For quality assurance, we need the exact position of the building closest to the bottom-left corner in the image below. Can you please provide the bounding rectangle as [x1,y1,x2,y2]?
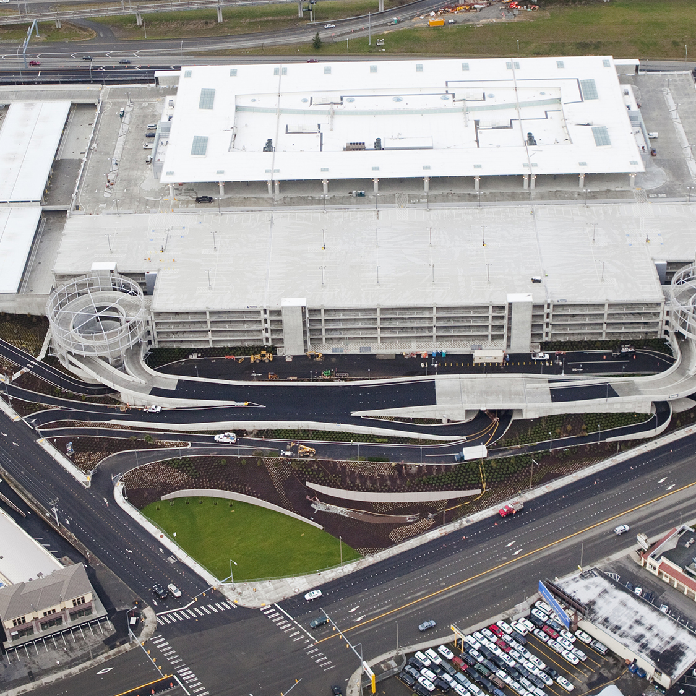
[0,507,108,641]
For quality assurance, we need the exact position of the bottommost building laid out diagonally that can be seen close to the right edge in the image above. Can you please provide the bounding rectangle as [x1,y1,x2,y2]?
[553,566,696,693]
